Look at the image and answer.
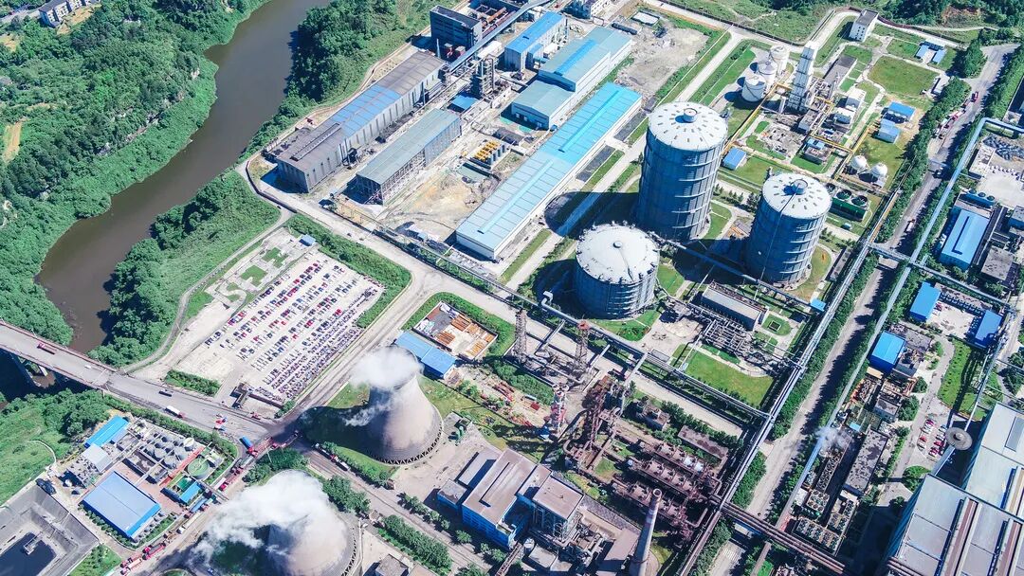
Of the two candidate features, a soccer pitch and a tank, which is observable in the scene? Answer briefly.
tank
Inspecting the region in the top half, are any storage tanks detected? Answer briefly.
Yes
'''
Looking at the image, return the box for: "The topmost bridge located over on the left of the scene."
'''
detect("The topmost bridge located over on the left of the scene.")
[0,322,117,386]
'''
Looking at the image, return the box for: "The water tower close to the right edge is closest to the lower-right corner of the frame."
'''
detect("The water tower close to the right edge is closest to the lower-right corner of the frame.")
[932,424,979,480]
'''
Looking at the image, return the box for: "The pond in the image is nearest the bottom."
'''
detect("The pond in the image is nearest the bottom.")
[0,483,100,576]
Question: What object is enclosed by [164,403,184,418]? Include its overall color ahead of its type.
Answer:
white vehicle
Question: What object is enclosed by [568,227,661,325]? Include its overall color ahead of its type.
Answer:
white storage tank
